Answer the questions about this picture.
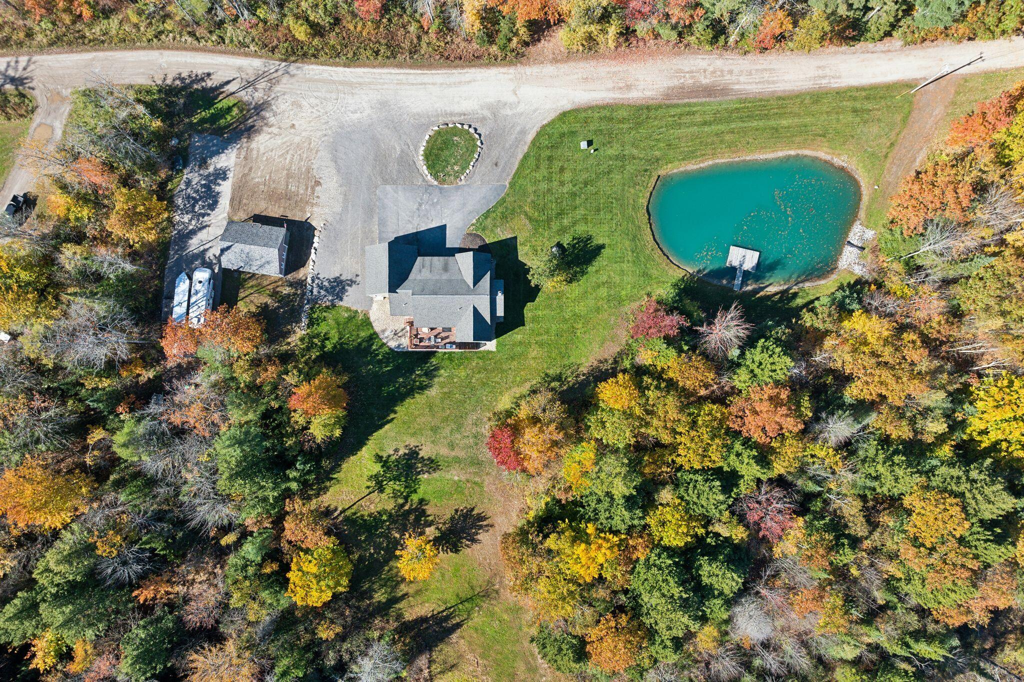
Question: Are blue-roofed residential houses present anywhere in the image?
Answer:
No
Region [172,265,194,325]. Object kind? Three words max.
trailer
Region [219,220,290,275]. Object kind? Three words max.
shed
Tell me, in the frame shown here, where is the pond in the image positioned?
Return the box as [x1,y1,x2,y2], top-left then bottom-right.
[651,157,858,286]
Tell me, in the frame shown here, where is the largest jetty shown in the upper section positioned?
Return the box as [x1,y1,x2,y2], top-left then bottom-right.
[726,246,759,272]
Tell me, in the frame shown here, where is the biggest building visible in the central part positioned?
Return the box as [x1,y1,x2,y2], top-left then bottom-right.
[364,243,504,341]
